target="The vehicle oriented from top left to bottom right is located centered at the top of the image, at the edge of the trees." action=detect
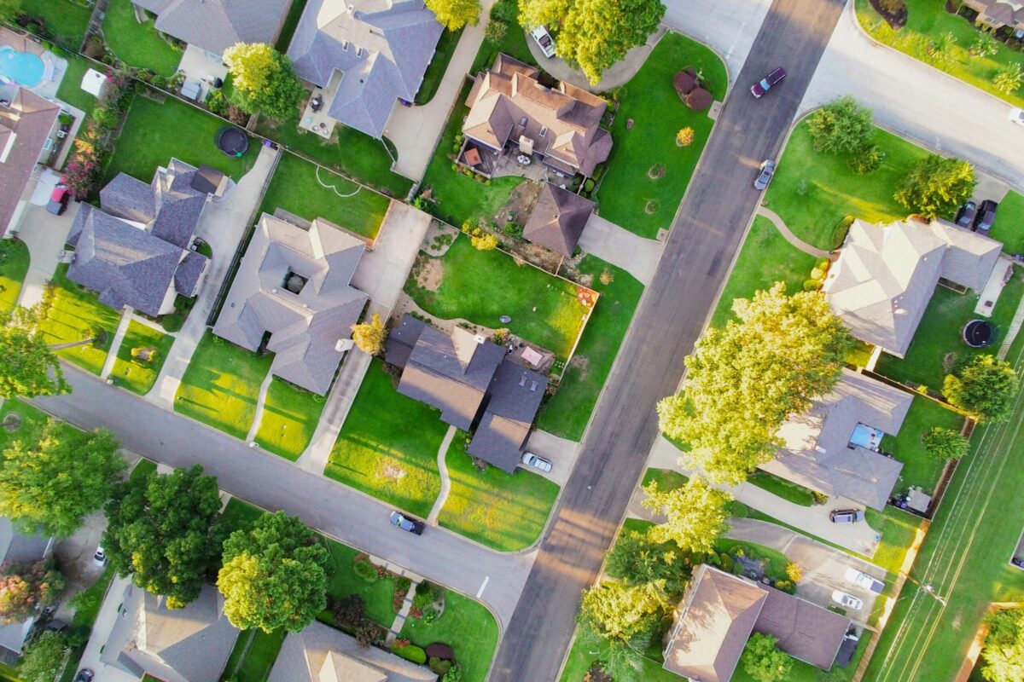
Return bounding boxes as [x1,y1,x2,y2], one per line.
[529,24,557,61]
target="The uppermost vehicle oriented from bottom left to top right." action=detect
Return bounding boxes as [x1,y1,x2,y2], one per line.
[750,66,787,98]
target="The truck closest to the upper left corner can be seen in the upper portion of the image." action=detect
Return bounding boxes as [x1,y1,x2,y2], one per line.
[42,180,66,216]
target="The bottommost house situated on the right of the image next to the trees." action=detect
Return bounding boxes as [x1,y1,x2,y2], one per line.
[662,565,852,682]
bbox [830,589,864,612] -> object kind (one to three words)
car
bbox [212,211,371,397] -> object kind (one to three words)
house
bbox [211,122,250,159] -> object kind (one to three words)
trampoline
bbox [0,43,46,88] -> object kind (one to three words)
swimming pool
